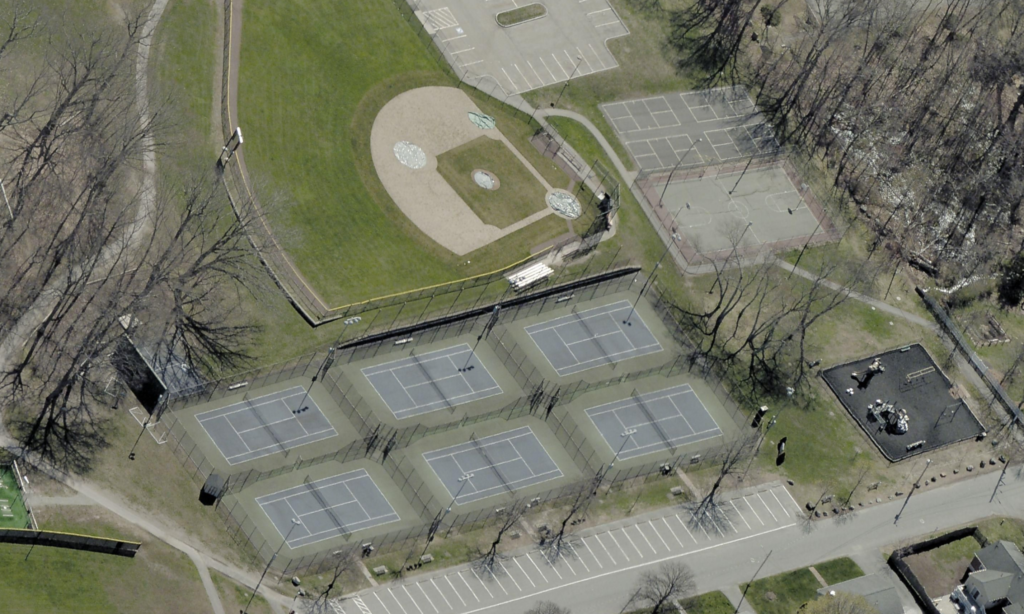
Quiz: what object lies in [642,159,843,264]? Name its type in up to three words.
basketball court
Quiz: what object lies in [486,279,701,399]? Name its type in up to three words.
tennis court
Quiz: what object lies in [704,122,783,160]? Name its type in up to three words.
tennis court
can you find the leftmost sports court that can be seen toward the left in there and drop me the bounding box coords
[136,336,203,398]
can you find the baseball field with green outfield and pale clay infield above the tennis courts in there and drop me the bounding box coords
[225,0,605,313]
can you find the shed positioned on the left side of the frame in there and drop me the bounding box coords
[201,478,229,503]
